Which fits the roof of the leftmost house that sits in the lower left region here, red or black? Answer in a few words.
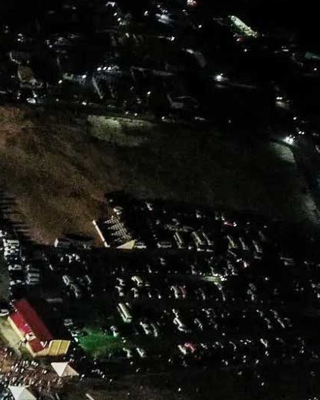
red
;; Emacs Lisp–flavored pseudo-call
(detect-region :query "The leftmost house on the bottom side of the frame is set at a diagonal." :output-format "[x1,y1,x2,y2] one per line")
[0,299,67,361]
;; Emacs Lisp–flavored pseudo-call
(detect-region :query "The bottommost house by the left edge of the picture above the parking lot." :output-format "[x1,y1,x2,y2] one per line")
[9,58,46,85]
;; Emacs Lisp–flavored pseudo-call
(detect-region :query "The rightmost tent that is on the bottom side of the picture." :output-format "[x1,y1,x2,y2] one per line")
[45,361,81,387]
